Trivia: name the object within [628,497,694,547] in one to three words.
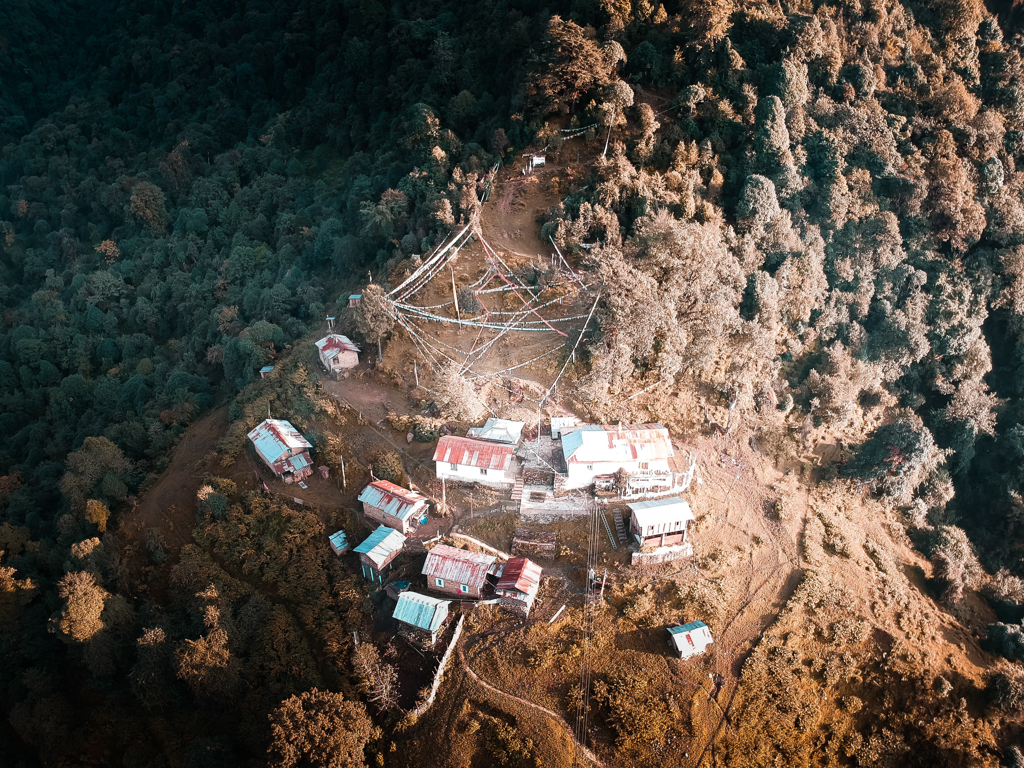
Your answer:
house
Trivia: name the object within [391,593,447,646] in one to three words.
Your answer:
shed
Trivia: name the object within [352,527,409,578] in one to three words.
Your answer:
shed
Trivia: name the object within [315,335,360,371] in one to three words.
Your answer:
building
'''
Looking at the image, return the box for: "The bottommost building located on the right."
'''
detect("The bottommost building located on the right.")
[668,621,713,660]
